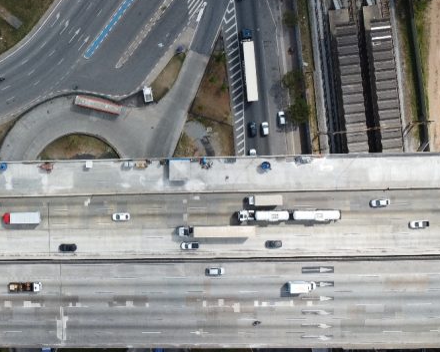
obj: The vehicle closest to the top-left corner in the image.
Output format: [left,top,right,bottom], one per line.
[72,96,124,118]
